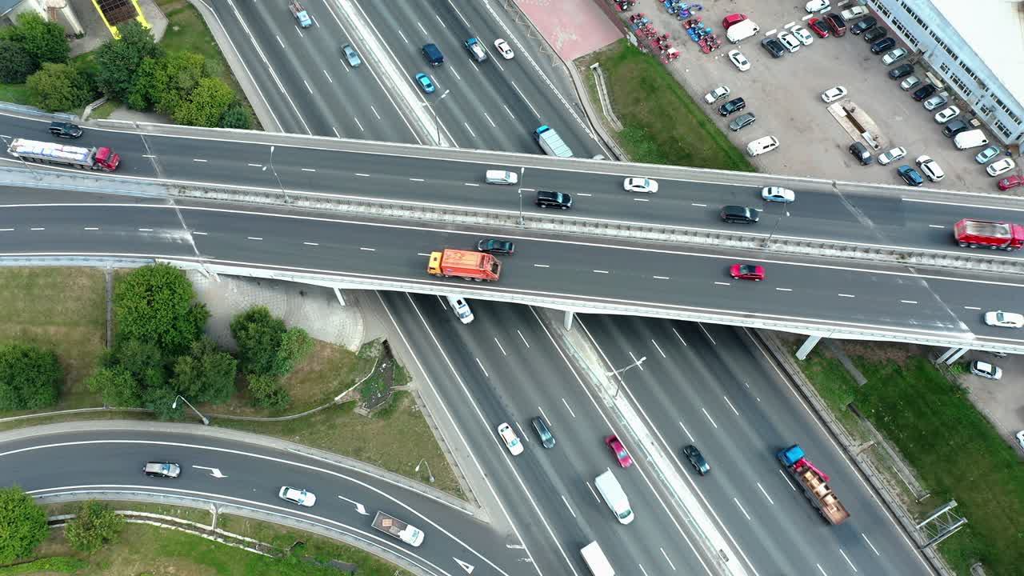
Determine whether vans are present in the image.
Yes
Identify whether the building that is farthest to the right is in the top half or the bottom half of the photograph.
top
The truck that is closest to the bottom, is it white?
Yes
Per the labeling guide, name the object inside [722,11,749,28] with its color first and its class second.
red car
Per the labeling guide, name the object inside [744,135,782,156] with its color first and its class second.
white vehicle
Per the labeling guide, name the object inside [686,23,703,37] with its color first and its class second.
blue work vehicle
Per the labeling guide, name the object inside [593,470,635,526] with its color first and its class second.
white van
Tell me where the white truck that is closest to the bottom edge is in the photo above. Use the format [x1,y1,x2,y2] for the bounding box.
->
[578,540,617,576]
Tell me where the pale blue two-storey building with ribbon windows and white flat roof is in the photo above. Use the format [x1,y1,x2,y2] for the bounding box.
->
[869,0,1024,152]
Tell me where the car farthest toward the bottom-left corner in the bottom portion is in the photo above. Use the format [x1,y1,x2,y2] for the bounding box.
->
[141,460,183,479]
